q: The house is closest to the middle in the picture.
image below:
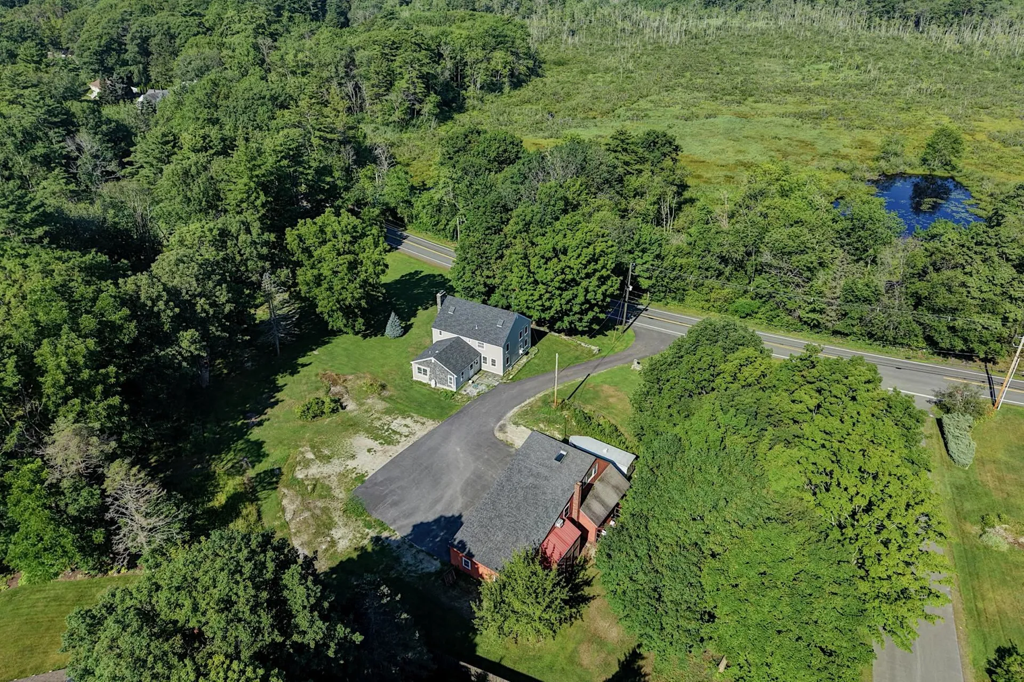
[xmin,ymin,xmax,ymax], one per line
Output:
[410,288,532,391]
